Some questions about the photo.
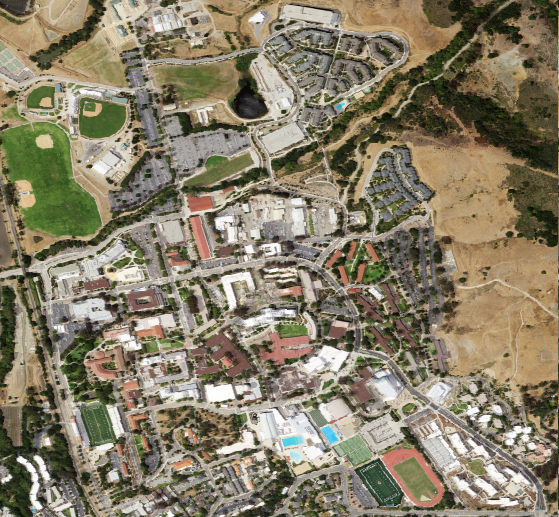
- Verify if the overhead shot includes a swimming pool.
Yes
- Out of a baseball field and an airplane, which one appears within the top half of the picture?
baseball field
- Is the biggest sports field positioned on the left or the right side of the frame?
left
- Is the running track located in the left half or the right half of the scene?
right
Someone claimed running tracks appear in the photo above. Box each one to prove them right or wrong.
[380,447,443,507]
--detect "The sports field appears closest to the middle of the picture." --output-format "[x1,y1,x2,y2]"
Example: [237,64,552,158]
[182,151,260,189]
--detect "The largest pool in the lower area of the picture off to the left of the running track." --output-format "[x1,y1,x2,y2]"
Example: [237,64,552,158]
[279,434,320,466]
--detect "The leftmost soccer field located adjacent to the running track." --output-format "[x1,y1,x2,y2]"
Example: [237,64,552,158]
[355,458,403,506]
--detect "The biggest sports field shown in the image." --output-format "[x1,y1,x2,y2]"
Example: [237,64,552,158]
[1,123,100,235]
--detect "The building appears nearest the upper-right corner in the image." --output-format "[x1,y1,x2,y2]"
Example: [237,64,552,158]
[367,35,403,67]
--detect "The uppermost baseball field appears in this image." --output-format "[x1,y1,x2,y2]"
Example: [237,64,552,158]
[25,84,57,110]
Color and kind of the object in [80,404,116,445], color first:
green sports field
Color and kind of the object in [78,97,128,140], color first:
green baseball field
